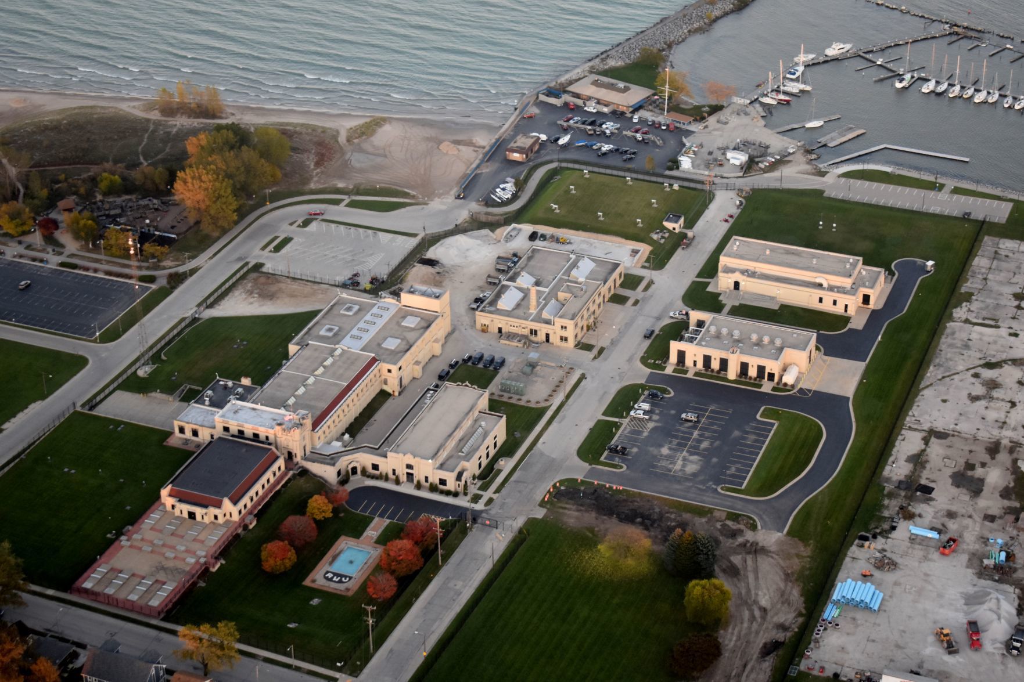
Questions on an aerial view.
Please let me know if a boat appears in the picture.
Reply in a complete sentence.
Yes, the picture does show a boat.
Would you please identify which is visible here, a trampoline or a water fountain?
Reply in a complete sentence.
It is a water fountain that can be seen here.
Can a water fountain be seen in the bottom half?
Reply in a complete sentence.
Yes, I can see a water fountain in the bottom half.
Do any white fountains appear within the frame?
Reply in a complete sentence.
No, no white fountain is visible in the scene.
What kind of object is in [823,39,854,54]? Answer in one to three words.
boat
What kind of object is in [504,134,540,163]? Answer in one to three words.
building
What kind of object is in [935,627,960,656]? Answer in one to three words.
work vehicle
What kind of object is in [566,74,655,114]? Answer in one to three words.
building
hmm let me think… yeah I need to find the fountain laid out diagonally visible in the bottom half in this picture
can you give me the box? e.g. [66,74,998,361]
[303,512,407,594]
